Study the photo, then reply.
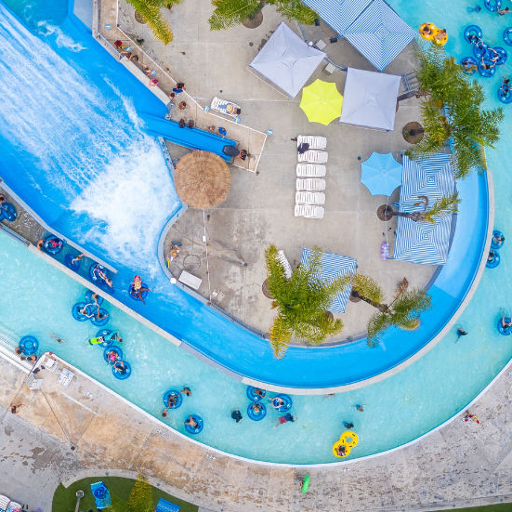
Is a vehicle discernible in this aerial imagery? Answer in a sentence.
No, I find no vehicle anywhere in the image.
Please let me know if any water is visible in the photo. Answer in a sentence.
Yes, there is water in the image.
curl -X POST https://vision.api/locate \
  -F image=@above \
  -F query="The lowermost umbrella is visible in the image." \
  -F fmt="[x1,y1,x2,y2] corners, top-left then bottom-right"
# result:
[359,151,401,193]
